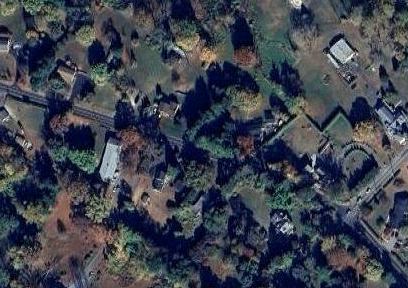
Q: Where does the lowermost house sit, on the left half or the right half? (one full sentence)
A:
The lowermost house is on the right side of the image.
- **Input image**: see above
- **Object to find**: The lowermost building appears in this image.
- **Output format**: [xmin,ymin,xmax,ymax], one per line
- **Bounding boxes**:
[267,212,296,235]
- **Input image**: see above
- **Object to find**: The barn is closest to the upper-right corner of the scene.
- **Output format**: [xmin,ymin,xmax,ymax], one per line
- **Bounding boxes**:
[330,39,357,68]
